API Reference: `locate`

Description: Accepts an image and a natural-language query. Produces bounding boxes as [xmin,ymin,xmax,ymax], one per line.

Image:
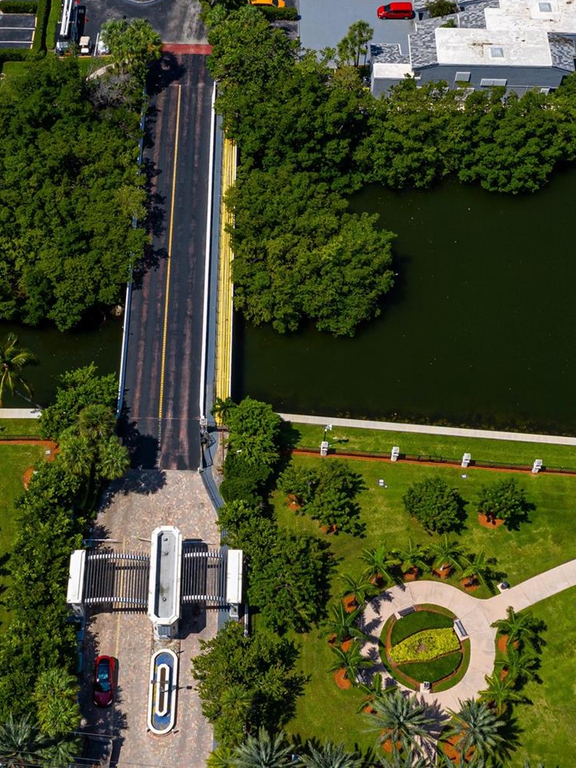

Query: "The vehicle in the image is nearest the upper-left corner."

[55,0,80,45]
